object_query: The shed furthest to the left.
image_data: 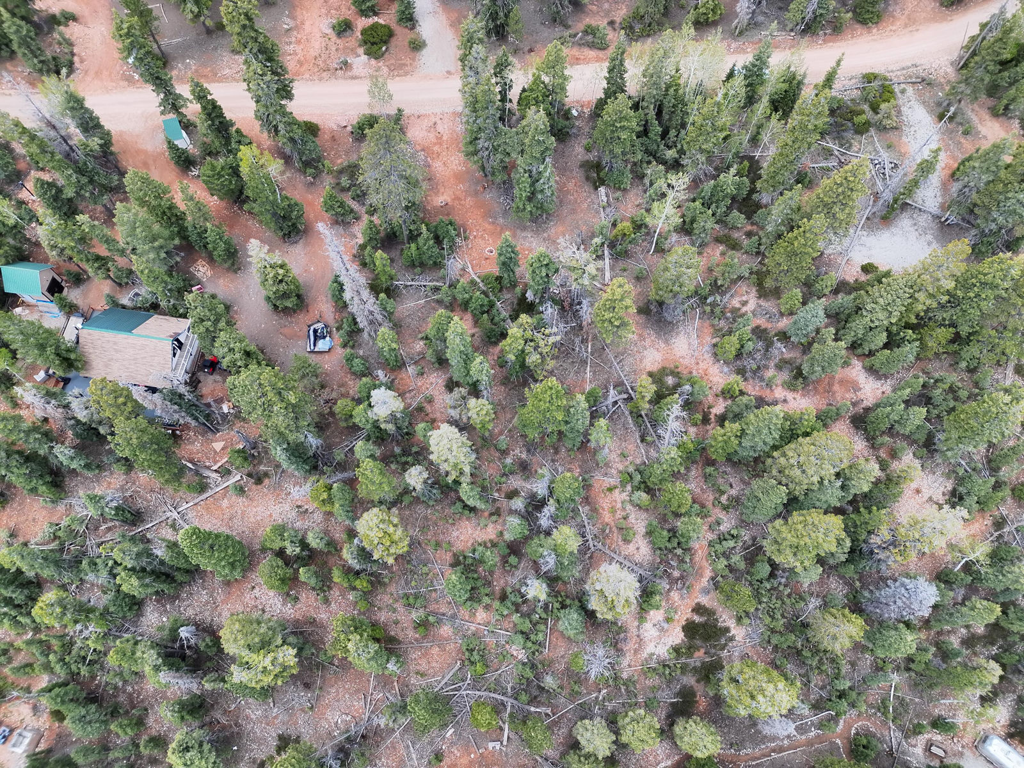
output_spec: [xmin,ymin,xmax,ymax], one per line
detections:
[0,258,66,302]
